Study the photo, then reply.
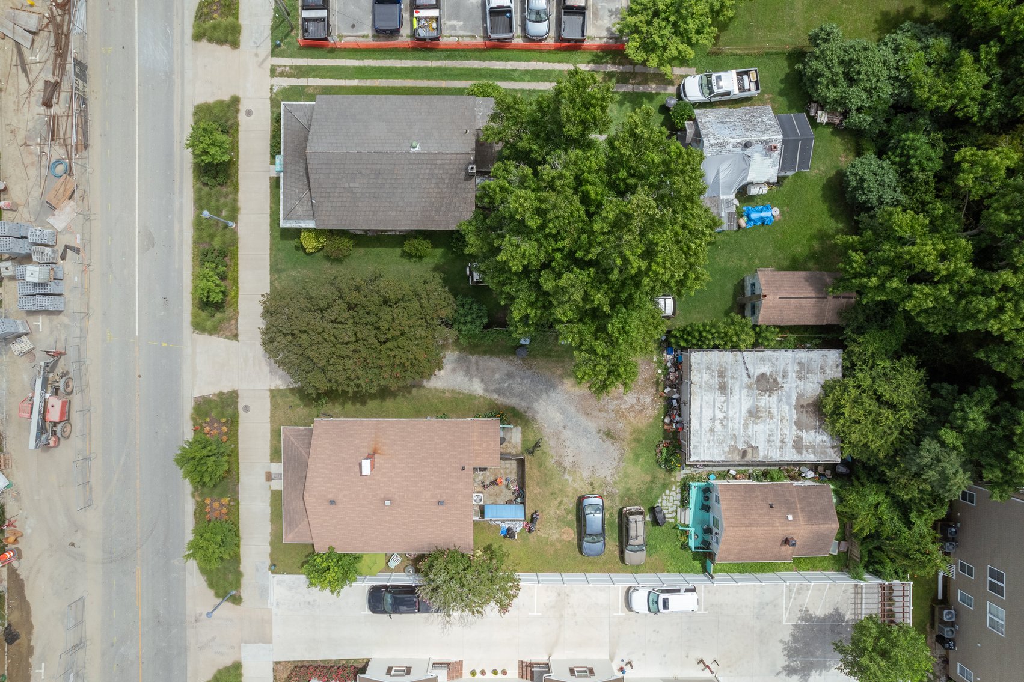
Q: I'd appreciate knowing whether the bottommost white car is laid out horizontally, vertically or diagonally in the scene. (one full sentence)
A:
The bottommost white car runs horizontally in the image.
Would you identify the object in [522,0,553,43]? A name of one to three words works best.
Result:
car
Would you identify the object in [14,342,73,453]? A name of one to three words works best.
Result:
work vehicle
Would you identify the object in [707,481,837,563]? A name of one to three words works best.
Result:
house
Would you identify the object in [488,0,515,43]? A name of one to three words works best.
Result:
truck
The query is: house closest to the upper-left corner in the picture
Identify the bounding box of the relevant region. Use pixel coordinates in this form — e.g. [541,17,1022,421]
[278,94,502,230]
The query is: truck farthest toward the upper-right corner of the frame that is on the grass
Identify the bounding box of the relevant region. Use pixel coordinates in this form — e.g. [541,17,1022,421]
[678,67,764,106]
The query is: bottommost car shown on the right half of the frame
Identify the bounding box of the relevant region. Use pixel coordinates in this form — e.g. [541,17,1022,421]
[627,585,700,619]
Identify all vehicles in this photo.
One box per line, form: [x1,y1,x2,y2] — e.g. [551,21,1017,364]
[522,0,553,43]
[620,504,650,566]
[678,67,764,106]
[367,585,442,618]
[579,493,609,558]
[374,0,404,39]
[627,585,700,619]
[641,292,676,320]
[413,0,442,43]
[14,342,73,453]
[527,510,541,536]
[488,0,515,43]
[301,0,332,46]
[559,0,587,44]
